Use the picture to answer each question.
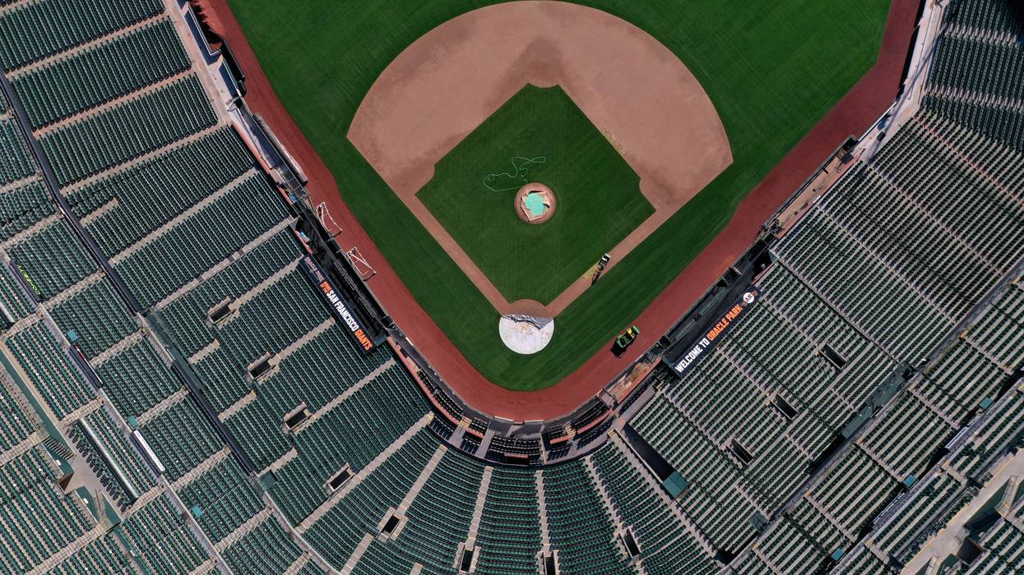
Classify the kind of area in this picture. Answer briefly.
sports ground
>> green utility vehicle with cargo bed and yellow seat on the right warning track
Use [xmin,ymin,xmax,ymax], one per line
[617,327,641,349]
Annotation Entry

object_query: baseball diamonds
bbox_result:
[188,0,920,424]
